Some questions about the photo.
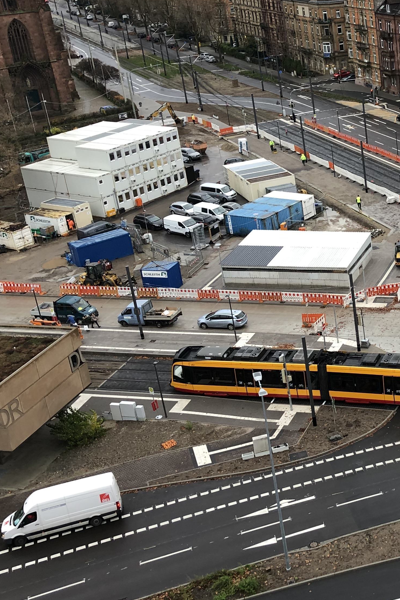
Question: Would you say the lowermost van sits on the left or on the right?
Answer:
left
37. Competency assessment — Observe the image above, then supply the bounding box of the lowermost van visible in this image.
[0,470,124,548]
